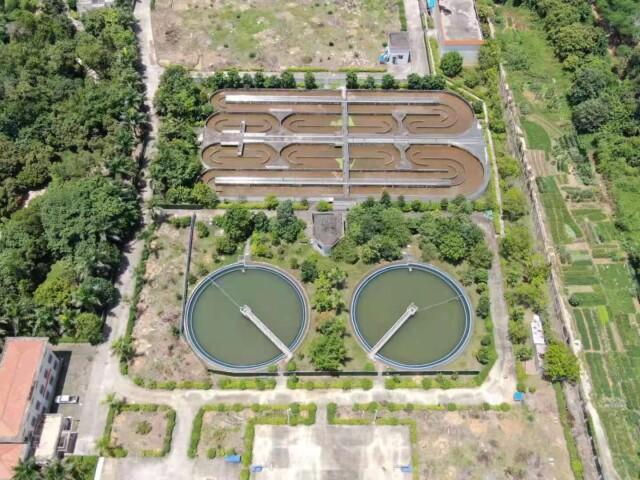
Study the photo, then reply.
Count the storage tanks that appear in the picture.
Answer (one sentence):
Looking from above, you can make out 2 storage tanks.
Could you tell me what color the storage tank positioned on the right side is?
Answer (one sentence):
In this view, the storage tank positioned on the right side is green.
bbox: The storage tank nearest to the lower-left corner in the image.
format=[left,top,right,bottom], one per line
[184,254,311,374]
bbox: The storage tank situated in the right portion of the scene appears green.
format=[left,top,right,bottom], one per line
[349,256,474,373]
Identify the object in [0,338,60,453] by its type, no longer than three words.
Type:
building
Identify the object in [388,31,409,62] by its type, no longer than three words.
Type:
shed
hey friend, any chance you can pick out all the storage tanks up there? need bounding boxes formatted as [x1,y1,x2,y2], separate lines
[349,256,474,373]
[184,254,311,374]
